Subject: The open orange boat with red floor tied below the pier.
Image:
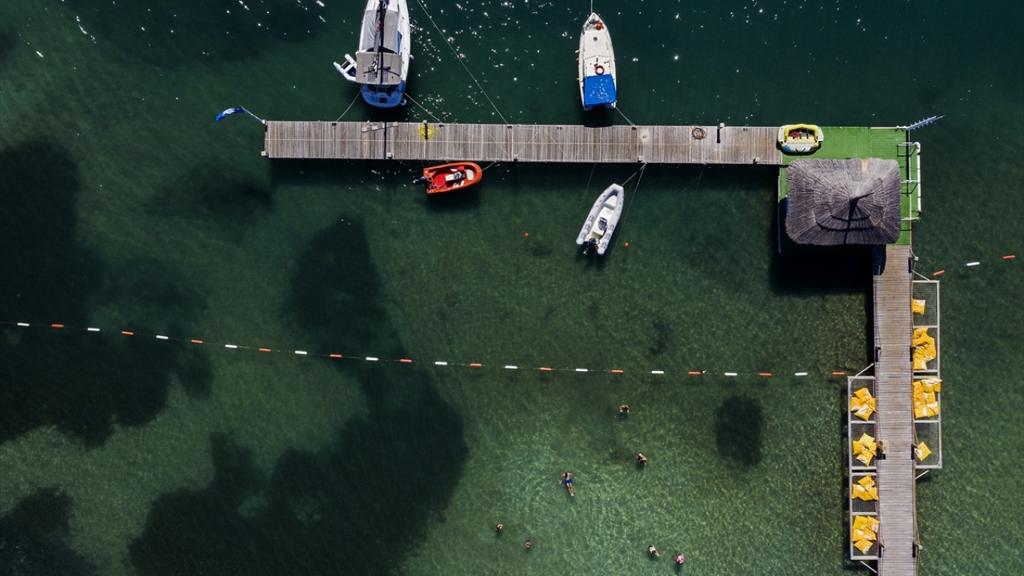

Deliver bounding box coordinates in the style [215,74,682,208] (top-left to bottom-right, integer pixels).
[416,163,483,194]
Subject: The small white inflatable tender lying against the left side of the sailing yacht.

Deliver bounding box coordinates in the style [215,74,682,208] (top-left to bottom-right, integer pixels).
[331,53,358,85]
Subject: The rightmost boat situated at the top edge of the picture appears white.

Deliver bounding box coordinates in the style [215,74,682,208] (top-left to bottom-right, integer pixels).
[576,9,617,120]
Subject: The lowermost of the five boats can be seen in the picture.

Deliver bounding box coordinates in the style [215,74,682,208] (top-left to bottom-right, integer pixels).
[575,186,621,261]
